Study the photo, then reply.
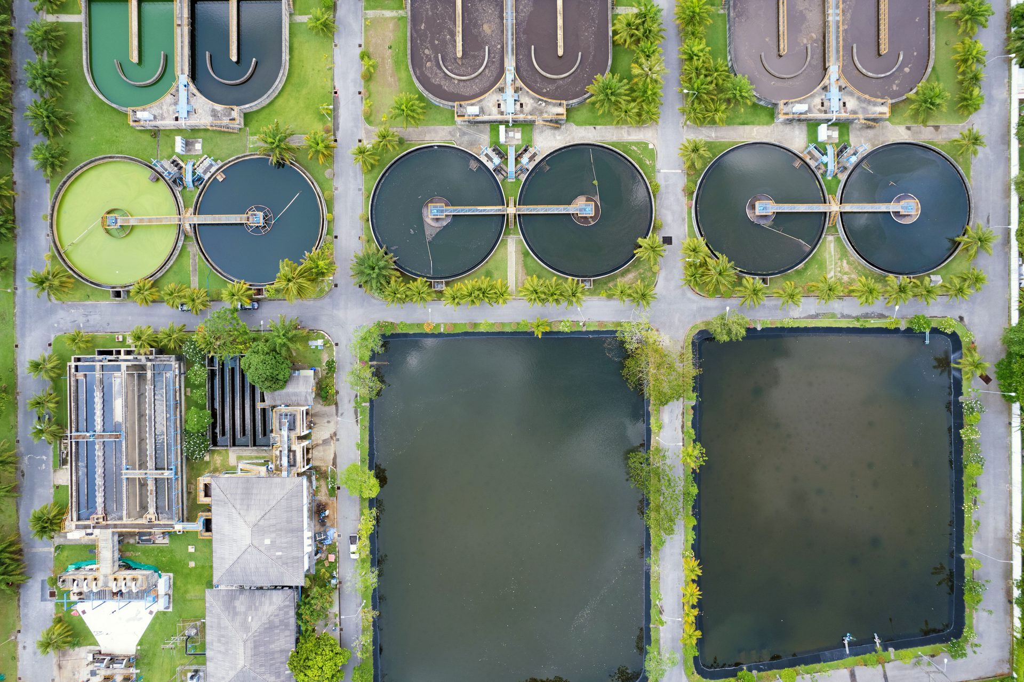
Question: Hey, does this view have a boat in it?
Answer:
No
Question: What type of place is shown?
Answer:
industrial area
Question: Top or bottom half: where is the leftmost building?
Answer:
bottom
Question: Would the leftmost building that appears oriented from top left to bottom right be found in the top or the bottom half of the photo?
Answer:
top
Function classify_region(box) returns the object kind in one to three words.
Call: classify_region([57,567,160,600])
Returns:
building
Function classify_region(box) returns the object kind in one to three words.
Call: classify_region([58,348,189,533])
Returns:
storage tank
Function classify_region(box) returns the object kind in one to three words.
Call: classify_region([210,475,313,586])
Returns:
building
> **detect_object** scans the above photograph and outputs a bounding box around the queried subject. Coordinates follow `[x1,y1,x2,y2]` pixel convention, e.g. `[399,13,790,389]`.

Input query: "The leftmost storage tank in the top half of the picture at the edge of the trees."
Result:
[51,155,189,297]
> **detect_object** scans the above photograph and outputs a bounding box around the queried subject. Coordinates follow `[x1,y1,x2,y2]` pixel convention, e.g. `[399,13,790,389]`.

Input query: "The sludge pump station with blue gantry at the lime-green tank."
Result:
[151,156,187,190]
